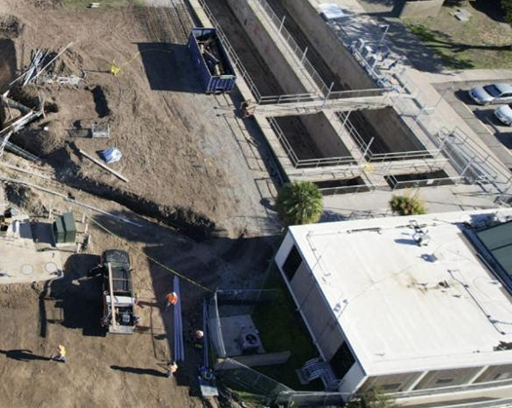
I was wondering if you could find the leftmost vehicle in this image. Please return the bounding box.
[104,248,148,339]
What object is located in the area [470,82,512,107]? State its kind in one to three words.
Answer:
car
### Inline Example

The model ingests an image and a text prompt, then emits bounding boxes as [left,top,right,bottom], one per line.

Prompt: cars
[492,107,512,128]
[470,82,512,107]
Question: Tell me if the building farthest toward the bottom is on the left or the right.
right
